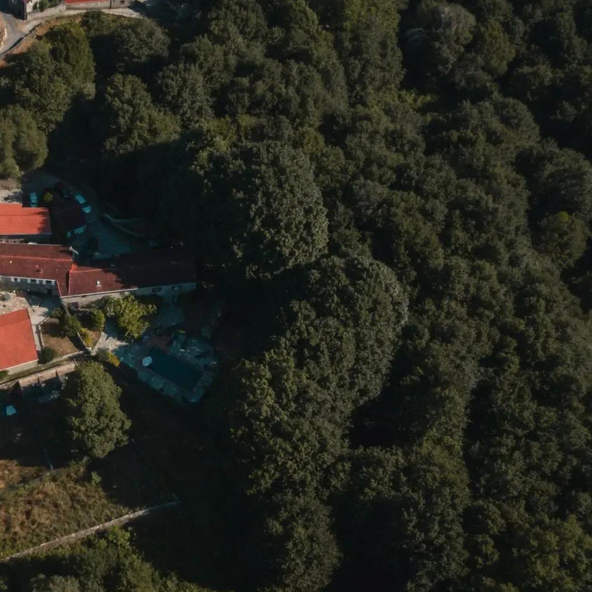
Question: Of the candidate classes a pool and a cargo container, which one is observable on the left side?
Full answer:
It is a pool that can be seen on the left side.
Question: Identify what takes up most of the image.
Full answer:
The largest share of the image is taken up by trees.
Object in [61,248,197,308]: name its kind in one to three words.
house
